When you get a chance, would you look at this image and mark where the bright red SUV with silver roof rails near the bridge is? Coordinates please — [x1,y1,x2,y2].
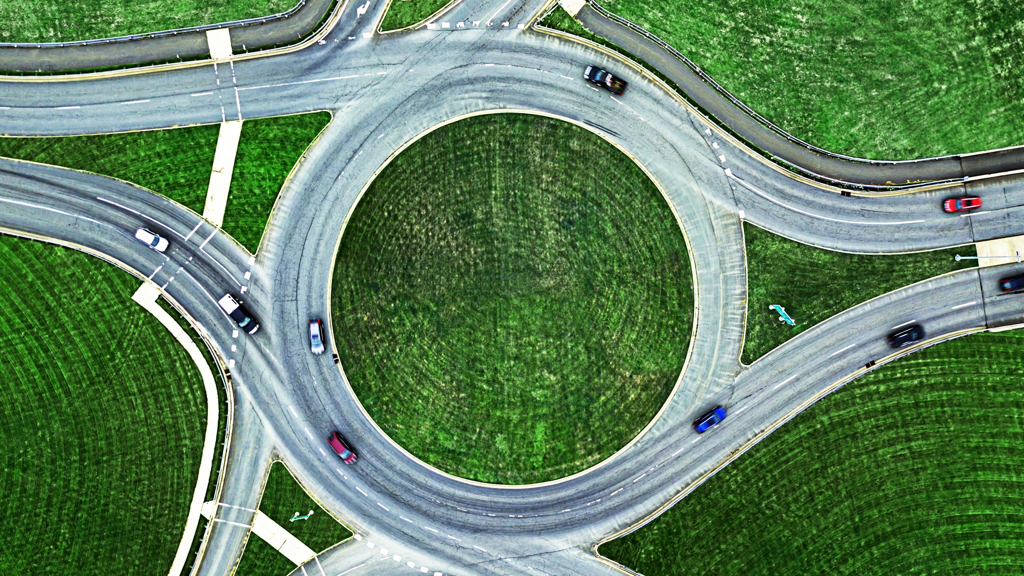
[944,195,982,213]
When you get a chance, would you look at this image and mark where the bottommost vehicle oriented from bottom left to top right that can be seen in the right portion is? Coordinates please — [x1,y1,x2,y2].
[691,404,728,435]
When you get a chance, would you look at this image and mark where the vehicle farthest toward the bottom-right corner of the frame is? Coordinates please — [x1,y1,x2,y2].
[885,323,925,350]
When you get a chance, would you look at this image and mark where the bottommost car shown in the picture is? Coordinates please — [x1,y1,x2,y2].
[325,432,357,464]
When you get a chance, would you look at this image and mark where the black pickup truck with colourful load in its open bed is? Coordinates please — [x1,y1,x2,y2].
[584,65,629,96]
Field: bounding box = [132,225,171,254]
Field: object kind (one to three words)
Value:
car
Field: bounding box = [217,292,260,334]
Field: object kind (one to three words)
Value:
truck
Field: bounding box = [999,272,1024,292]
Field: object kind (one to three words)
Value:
car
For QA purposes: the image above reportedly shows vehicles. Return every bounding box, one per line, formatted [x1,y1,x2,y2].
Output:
[885,323,925,350]
[132,225,171,254]
[584,65,629,96]
[999,272,1024,292]
[691,404,728,435]
[944,195,982,213]
[325,432,357,464]
[307,318,326,354]
[217,292,260,334]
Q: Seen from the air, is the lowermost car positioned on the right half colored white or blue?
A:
blue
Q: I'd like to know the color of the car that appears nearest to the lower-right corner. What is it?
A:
black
